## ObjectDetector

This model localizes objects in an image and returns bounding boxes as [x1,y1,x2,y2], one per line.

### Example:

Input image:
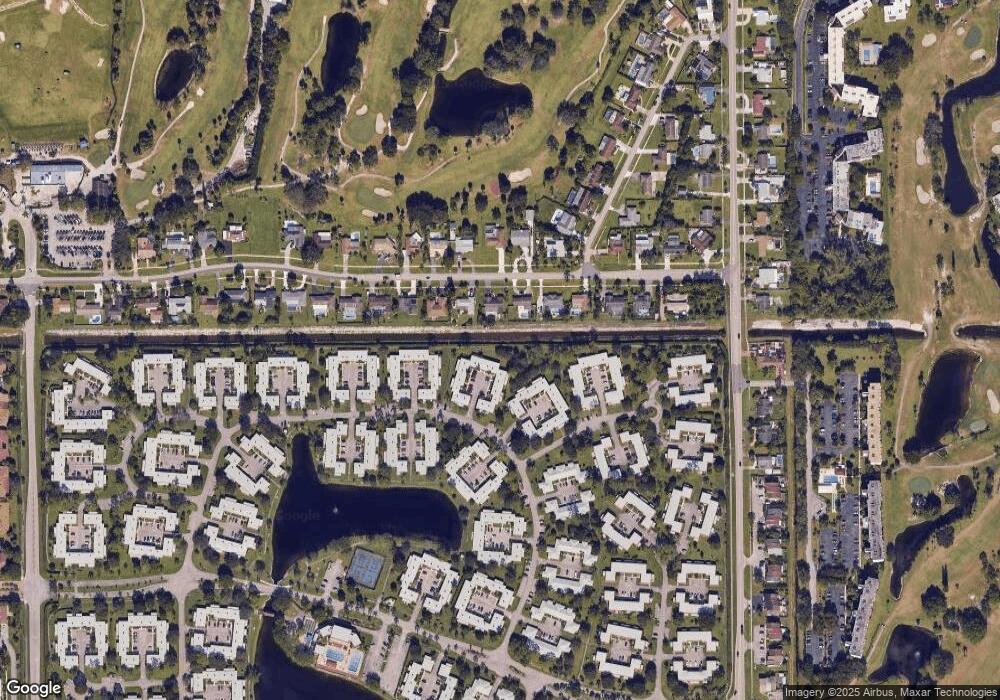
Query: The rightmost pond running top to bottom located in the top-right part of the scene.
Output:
[943,66,1000,215]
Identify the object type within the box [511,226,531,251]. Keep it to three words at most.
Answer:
house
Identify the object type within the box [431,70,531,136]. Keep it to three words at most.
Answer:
pond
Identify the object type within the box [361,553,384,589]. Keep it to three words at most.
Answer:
tennis court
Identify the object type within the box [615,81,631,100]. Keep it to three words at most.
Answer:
swimming pool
